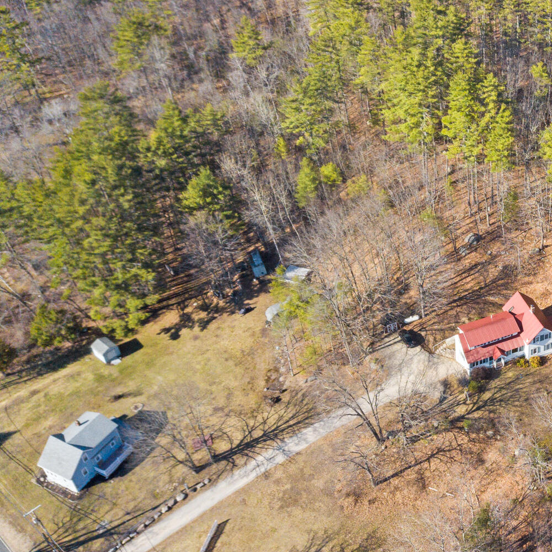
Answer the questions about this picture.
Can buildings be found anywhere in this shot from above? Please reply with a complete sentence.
Yes, a building can be made out from above.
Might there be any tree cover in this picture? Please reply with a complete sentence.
Yes, tree cover shows up in the scene.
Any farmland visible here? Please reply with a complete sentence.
No, farmland can't be seen anywhere here.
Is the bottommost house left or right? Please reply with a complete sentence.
You can find the bottommost house on the left side of the picture.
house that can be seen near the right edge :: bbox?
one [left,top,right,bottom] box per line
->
[452,289,552,374]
